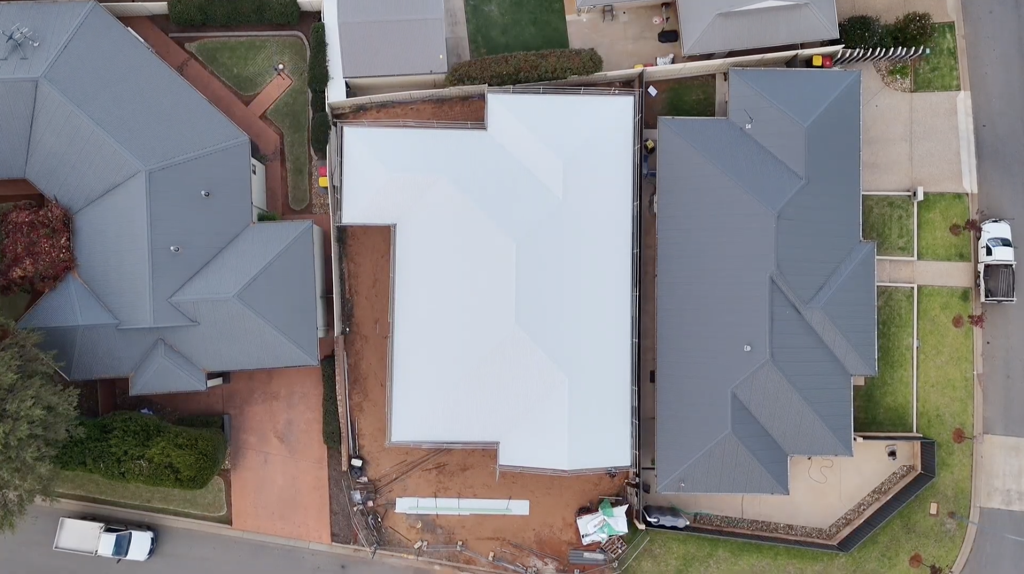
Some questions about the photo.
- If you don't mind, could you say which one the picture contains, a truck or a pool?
truck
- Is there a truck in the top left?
No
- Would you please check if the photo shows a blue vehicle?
No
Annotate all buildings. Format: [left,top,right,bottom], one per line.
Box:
[0,0,332,397]
[340,91,638,471]
[337,0,450,97]
[653,66,880,497]
[669,0,841,63]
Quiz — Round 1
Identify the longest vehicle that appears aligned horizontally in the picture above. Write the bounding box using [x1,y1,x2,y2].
[49,517,158,566]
